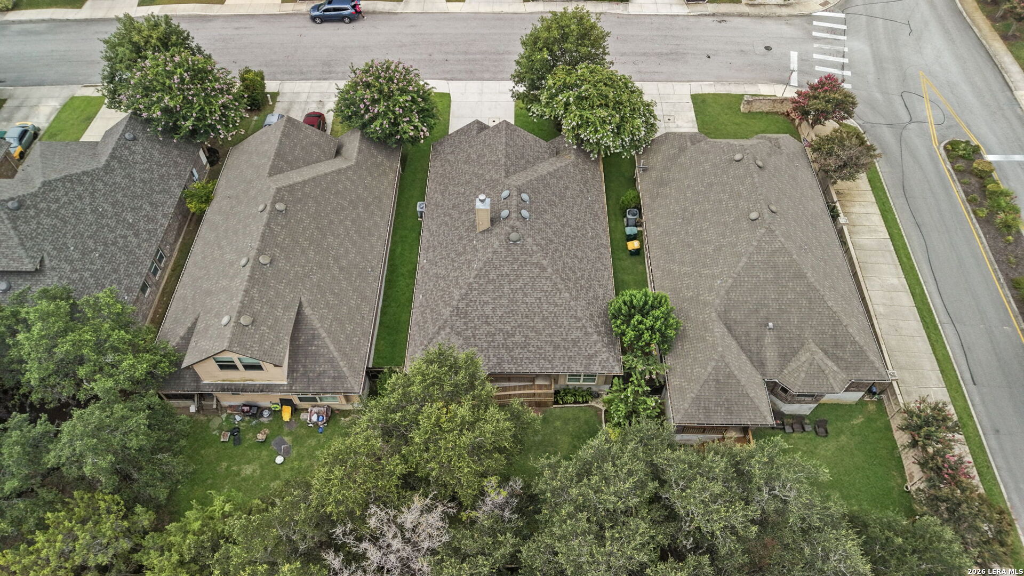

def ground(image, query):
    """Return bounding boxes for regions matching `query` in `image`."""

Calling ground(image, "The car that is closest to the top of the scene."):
[306,0,360,23]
